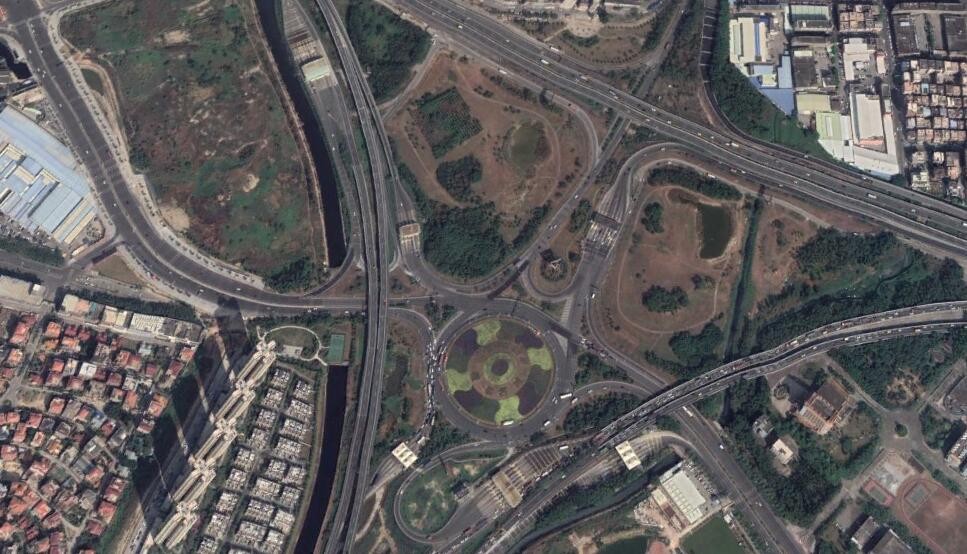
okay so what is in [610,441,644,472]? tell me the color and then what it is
white toll station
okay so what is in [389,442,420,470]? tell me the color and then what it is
white toll station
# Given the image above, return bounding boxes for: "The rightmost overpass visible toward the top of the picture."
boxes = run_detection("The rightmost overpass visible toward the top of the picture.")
[608,86,666,130]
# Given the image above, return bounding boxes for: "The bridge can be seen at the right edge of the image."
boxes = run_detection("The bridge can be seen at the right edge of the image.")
[591,301,967,445]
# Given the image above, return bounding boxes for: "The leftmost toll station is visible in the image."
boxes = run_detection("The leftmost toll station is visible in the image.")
[297,53,330,90]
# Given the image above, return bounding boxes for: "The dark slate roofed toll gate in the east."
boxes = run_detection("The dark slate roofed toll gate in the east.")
[586,203,625,243]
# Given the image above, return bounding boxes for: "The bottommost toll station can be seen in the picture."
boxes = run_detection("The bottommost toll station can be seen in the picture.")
[485,469,527,511]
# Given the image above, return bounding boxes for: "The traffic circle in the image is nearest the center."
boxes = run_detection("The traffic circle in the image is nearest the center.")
[427,297,573,443]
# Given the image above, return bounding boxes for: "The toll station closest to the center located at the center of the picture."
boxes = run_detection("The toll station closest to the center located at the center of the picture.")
[399,219,419,244]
